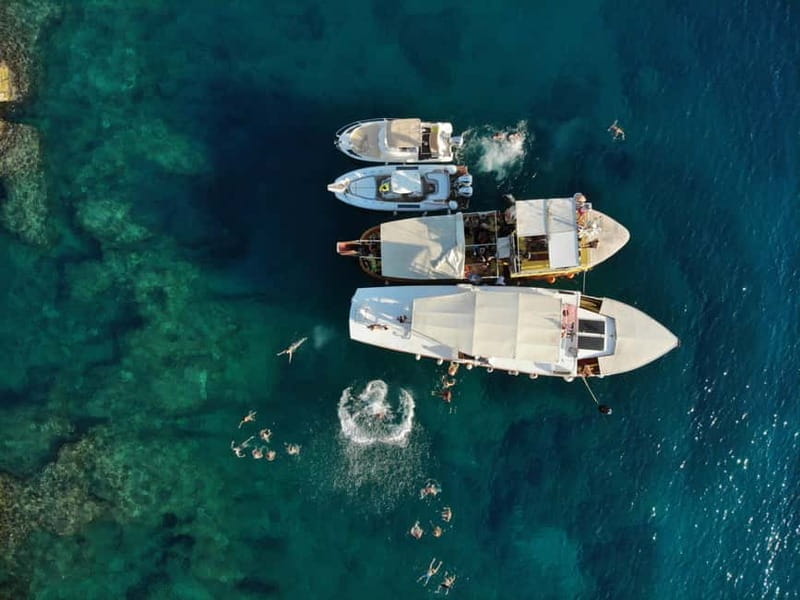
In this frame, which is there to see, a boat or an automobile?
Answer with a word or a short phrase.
boat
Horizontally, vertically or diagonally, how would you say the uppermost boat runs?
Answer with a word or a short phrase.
horizontally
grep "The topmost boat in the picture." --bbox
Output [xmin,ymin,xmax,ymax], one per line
[334,119,464,163]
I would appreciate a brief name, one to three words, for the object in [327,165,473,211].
boat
